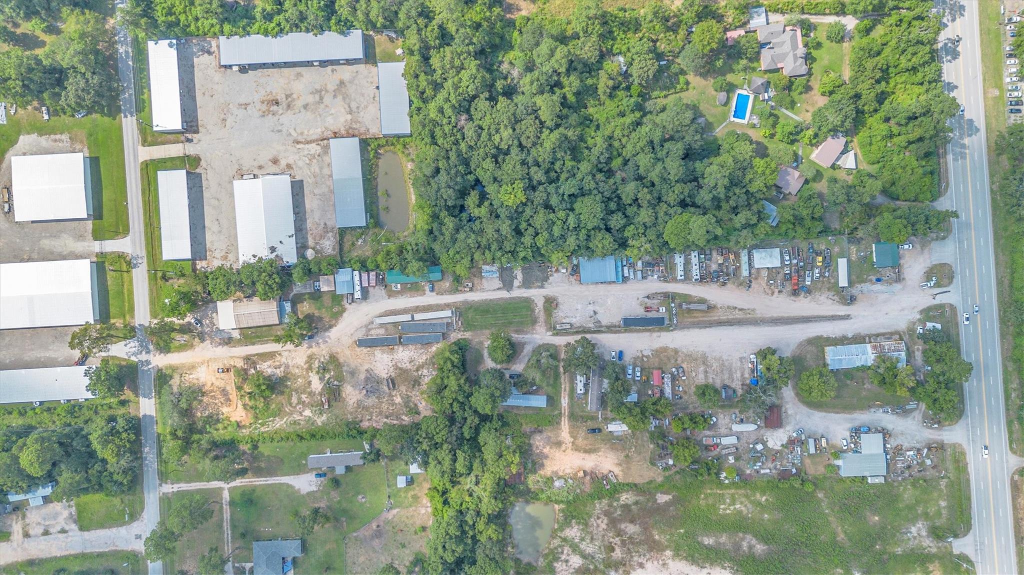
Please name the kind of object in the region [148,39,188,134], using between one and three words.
building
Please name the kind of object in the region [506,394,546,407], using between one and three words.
barn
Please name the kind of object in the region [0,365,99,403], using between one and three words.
building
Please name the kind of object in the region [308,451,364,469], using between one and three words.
house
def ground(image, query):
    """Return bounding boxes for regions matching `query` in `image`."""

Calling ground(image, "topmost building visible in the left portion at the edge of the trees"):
[218,29,365,68]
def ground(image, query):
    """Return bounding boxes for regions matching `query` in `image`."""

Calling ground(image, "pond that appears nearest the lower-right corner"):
[509,501,556,563]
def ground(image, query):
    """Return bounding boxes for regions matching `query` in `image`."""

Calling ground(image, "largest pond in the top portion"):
[375,150,410,233]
